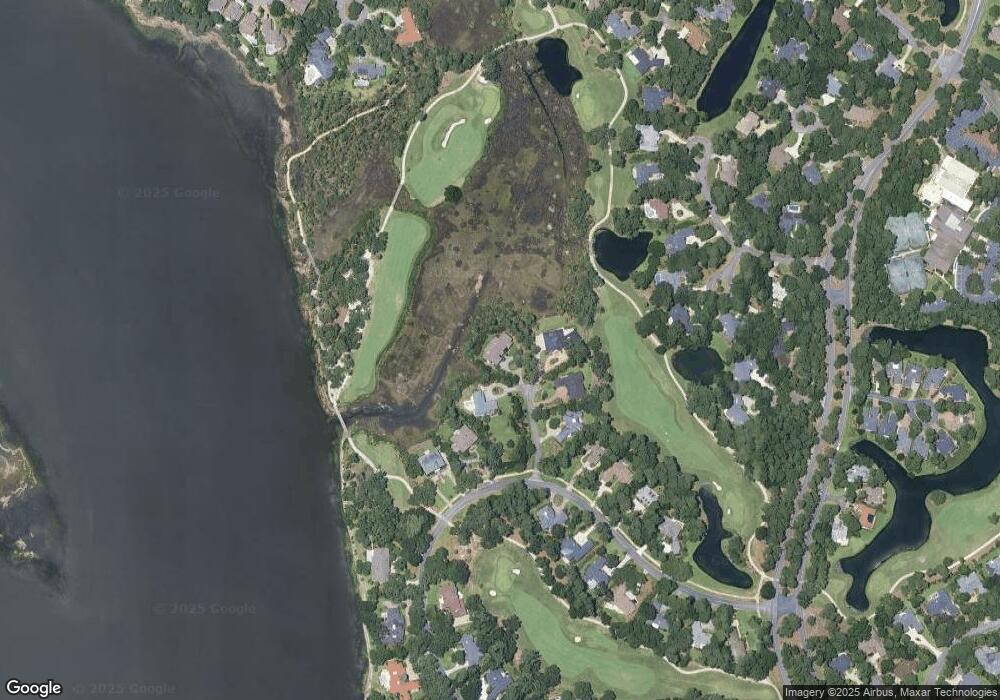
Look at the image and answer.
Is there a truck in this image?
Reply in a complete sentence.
No, the picture doesn't show any truck.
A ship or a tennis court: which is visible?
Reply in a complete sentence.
There is a tennis court in the scene.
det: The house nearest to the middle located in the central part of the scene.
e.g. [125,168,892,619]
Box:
[482,331,515,367]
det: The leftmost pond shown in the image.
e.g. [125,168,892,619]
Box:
[535,37,582,97]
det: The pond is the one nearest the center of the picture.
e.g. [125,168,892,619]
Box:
[593,228,653,281]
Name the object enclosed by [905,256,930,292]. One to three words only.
tennis court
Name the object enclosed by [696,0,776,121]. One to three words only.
pond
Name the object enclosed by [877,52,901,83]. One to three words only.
house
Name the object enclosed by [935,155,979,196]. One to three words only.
building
